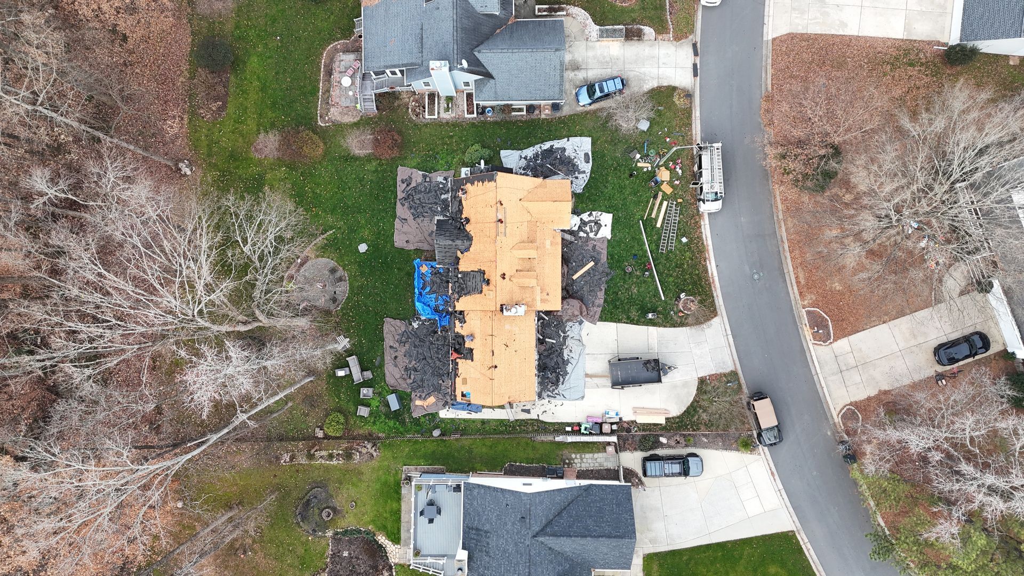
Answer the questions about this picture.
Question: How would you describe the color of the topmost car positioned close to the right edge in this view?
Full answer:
The topmost car positioned close to the right edge looks black in the image.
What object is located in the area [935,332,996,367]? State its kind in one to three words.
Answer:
car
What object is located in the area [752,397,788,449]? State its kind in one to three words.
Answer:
vehicle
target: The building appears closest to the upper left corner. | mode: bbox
[361,0,566,106]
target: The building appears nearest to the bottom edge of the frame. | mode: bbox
[455,476,636,576]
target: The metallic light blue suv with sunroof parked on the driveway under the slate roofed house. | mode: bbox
[575,72,629,106]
